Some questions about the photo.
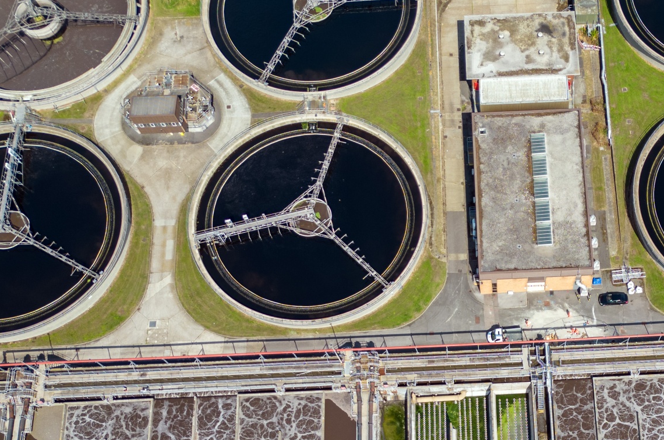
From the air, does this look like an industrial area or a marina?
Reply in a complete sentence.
The picture captures an industrial area.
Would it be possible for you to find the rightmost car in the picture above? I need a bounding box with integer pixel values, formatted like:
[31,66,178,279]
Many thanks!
[599,291,629,306]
